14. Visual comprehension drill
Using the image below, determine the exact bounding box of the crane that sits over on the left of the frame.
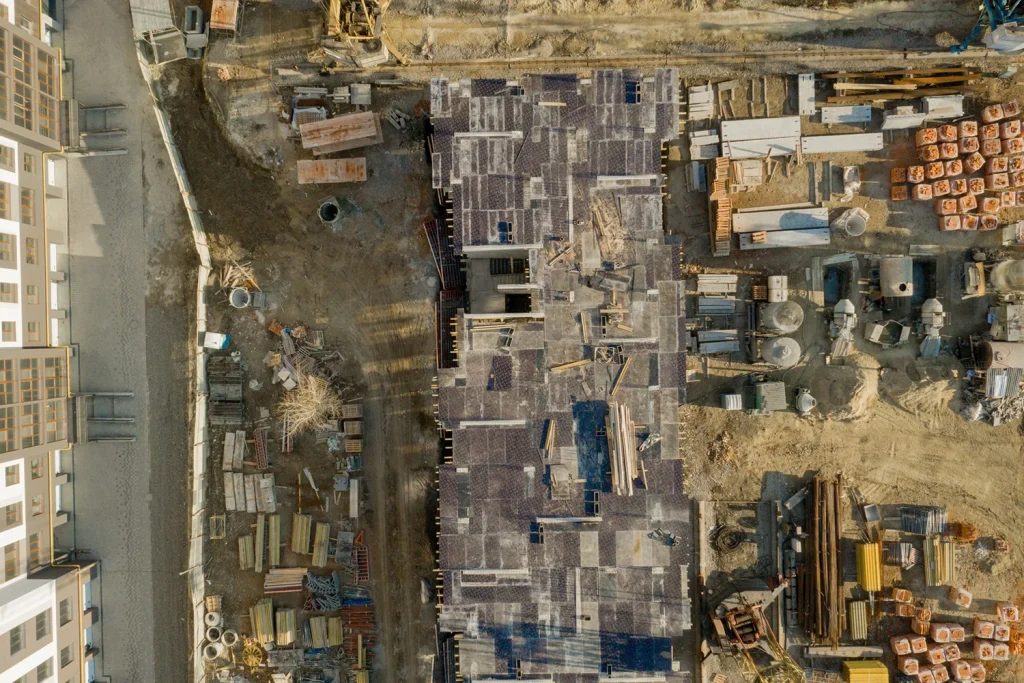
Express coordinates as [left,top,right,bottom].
[314,0,412,72]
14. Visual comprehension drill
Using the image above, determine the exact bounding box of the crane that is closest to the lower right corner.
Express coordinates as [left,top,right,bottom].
[702,574,810,683]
